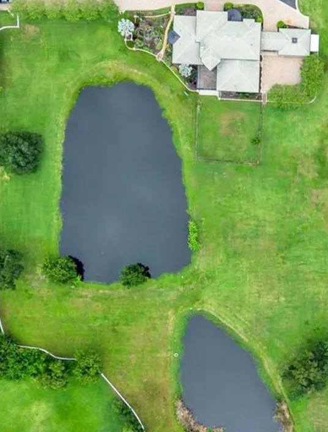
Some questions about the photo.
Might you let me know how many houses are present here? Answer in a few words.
1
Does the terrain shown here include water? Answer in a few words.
Yes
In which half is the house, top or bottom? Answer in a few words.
top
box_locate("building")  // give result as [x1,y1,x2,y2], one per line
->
[168,8,319,94]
